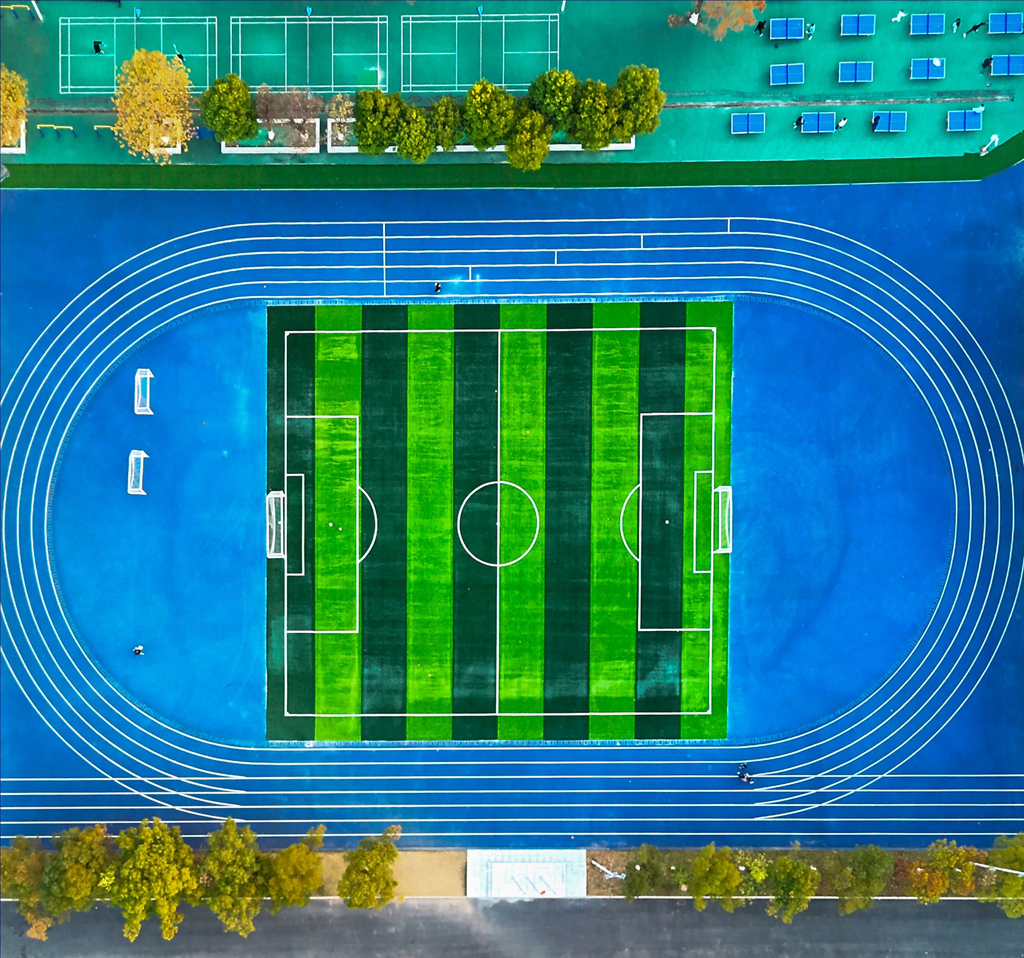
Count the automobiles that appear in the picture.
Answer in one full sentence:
The photo contains no automobiles.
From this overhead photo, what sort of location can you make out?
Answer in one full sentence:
It's a sports ground.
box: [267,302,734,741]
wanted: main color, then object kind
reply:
green soccer field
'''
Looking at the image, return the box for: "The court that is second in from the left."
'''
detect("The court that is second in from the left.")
[230,15,388,92]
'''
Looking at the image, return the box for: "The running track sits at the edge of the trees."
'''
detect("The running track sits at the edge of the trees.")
[0,157,1024,848]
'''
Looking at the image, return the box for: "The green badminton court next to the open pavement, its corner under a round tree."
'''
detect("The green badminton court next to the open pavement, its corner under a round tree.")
[401,13,559,91]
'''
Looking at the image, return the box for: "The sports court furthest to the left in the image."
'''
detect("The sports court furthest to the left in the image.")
[59,16,217,93]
